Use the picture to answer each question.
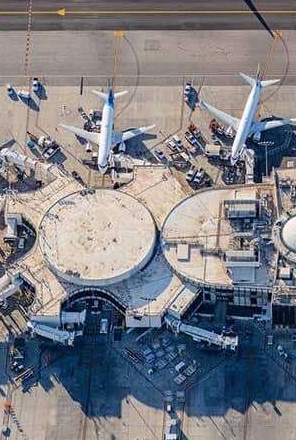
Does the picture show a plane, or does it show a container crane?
plane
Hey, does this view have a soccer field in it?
No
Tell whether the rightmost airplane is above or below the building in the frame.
above it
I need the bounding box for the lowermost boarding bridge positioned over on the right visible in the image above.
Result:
[161,315,244,354]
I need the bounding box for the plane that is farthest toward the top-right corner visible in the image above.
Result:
[199,64,296,165]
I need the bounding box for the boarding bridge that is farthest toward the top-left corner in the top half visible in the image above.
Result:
[0,151,53,180]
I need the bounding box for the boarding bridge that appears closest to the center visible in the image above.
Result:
[110,153,154,175]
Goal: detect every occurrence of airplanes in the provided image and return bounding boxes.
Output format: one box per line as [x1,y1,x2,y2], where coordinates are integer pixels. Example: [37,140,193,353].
[199,64,296,165]
[59,83,155,175]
